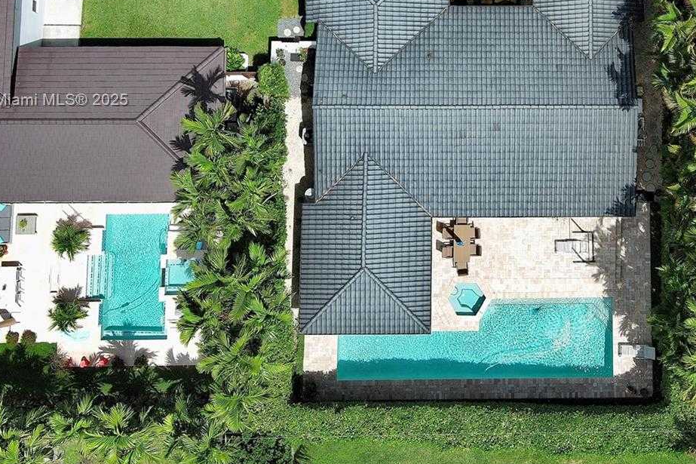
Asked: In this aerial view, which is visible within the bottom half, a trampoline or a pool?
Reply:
pool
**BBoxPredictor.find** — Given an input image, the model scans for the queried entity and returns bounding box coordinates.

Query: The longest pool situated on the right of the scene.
[332,293,618,385]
